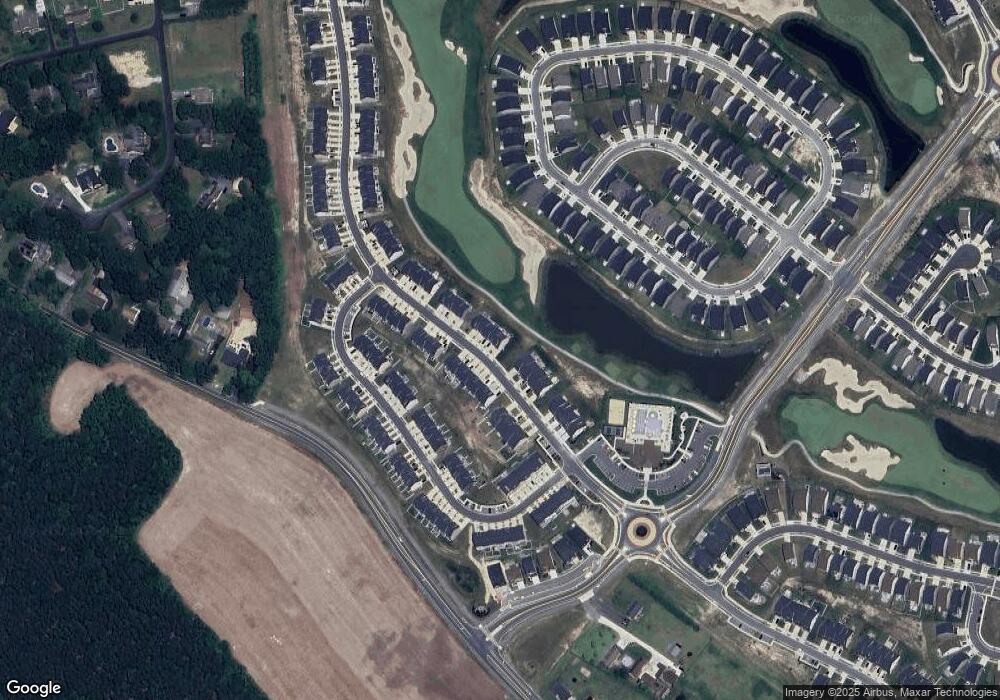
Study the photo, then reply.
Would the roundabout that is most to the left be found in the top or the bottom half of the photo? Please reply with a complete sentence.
The roundabout that is most to the left sits in the bottom half of the picture.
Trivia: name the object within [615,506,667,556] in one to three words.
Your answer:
roundabout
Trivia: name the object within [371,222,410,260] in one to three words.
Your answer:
house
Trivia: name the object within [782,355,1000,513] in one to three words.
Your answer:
golf course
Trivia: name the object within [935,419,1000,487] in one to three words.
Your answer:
pond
